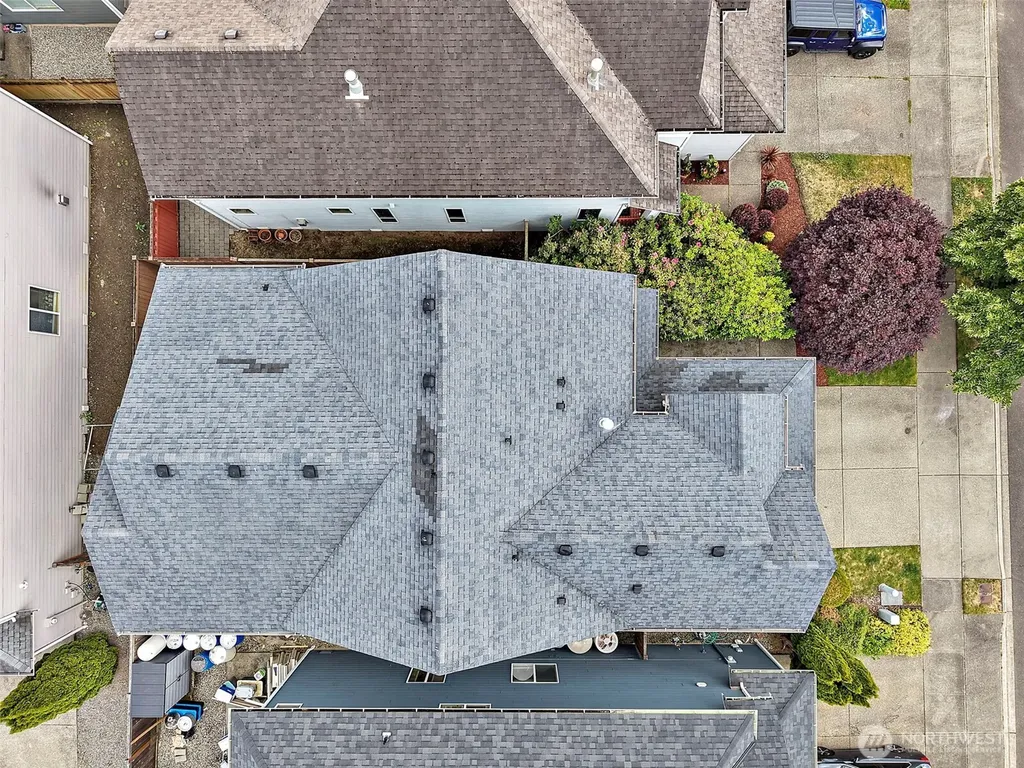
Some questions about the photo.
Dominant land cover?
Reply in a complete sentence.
Most of the picture is covered by buildings.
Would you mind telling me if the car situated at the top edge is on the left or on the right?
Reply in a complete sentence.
It is on the right.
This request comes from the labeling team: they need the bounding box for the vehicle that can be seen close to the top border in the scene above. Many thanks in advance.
[788,0,886,58]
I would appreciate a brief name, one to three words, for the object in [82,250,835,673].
house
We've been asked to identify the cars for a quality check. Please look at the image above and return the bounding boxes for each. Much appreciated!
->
[818,744,933,768]
[788,0,886,58]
